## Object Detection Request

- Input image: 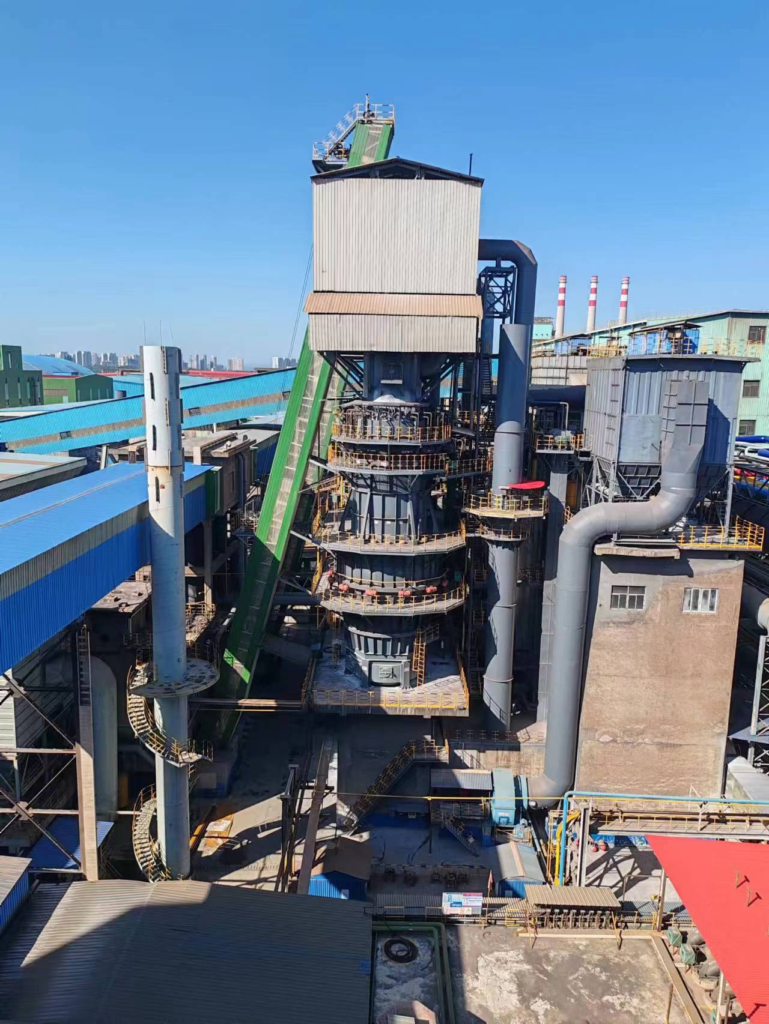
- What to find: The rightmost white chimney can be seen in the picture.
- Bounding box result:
[616,277,630,328]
